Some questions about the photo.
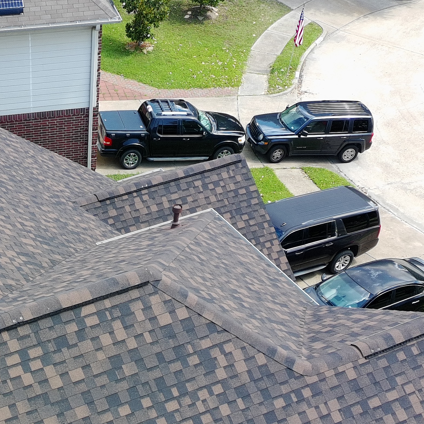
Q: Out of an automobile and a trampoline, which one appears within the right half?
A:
automobile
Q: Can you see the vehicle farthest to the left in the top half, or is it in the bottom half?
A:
top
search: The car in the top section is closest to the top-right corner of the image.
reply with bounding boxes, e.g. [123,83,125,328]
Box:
[247,99,379,163]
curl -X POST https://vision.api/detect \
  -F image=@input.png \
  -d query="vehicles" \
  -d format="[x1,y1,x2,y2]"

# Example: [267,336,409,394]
[266,189,388,279]
[247,99,379,163]
[95,93,251,170]
[311,258,424,317]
